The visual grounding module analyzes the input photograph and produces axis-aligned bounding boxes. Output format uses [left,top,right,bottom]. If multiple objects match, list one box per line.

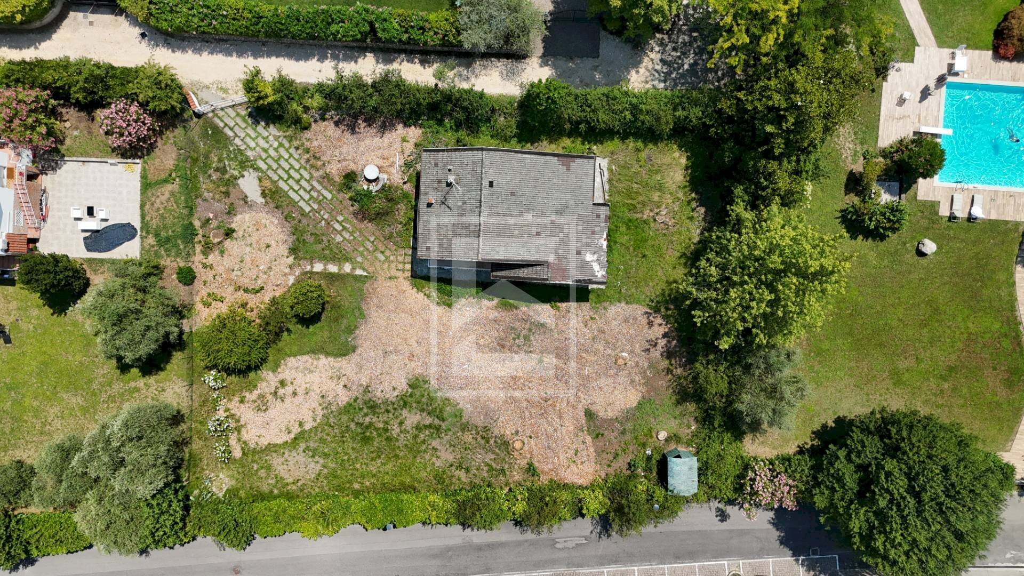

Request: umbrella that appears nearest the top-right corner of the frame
[930,70,947,99]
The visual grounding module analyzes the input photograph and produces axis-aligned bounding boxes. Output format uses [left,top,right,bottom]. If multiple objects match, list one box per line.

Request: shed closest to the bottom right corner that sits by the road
[663,445,697,493]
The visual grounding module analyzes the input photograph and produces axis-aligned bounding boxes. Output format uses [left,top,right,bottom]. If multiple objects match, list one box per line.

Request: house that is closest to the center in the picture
[411,147,610,292]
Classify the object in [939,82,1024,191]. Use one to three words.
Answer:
swimming pool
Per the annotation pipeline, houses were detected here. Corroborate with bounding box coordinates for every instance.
[0,140,50,270]
[411,147,610,292]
